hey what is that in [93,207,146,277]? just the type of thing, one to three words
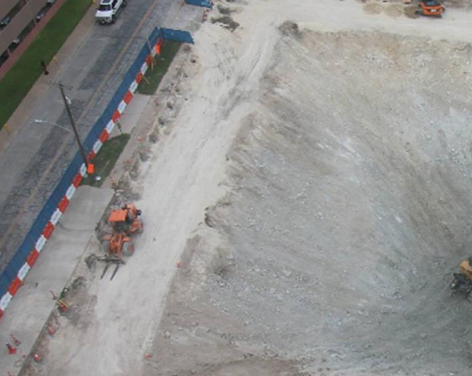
work vehicle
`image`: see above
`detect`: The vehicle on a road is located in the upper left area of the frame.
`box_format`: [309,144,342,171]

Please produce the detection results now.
[95,0,128,26]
